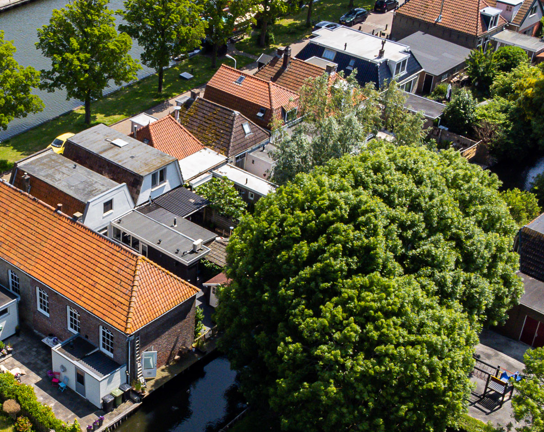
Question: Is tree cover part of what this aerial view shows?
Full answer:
Yes, some tree cover is visible.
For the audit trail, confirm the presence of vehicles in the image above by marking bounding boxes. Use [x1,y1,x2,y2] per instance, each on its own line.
[49,130,80,155]
[303,20,336,40]
[336,4,369,25]
[373,0,398,11]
